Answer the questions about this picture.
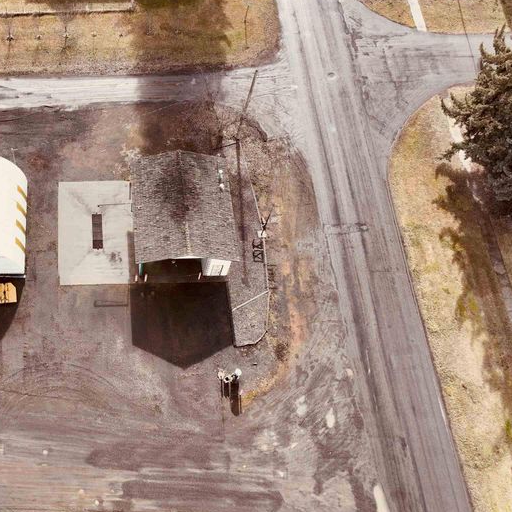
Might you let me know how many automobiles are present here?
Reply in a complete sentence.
The picture shows no automobiles.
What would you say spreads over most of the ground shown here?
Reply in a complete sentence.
What you mostly see from above here is paved ground.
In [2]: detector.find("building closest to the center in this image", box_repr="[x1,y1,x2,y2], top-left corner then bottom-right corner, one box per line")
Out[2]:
[128,145,243,278]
